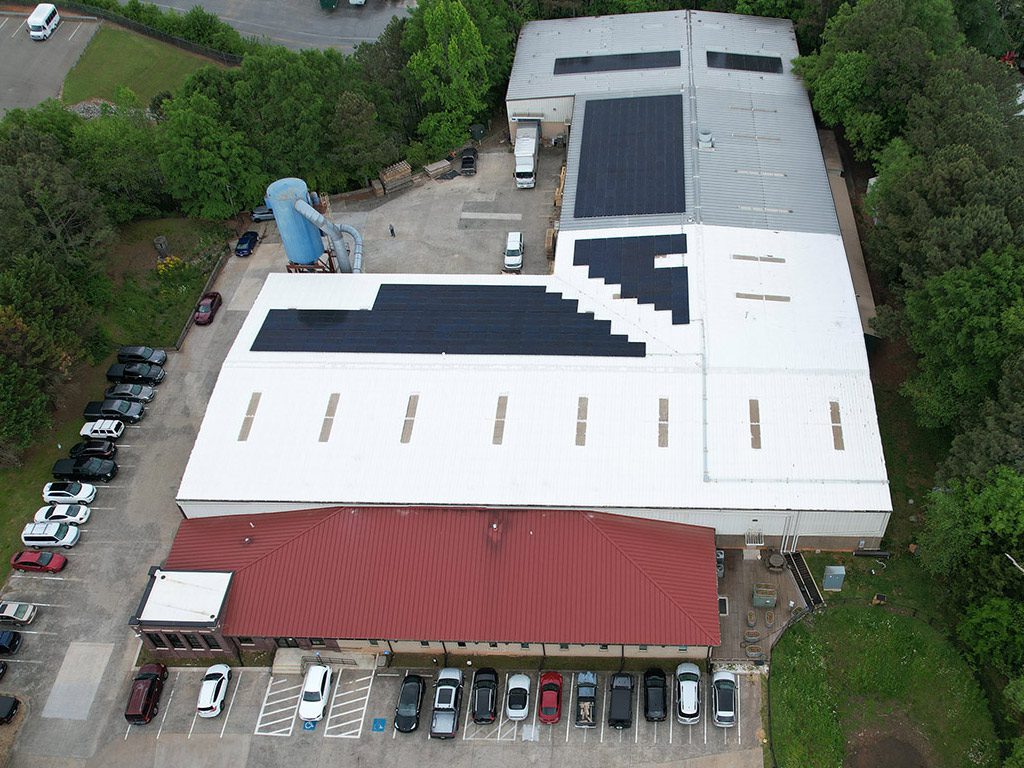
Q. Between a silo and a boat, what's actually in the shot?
silo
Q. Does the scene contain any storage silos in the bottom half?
No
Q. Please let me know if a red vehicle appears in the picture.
Yes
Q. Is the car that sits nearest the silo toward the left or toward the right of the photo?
left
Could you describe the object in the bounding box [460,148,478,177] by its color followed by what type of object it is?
black vehicle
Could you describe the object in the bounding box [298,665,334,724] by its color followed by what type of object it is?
white car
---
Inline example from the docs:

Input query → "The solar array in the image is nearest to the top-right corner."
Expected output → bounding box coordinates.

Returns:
[707,49,784,72]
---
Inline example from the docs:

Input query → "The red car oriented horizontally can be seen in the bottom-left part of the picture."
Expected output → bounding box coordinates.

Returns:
[9,550,70,577]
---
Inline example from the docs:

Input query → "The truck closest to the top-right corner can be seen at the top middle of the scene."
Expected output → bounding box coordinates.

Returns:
[512,123,538,188]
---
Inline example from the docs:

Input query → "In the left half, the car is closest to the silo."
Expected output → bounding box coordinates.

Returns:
[244,204,276,224]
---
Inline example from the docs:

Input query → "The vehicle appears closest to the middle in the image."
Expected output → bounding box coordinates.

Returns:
[504,232,524,267]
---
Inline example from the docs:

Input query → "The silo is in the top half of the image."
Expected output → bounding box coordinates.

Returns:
[266,178,364,274]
